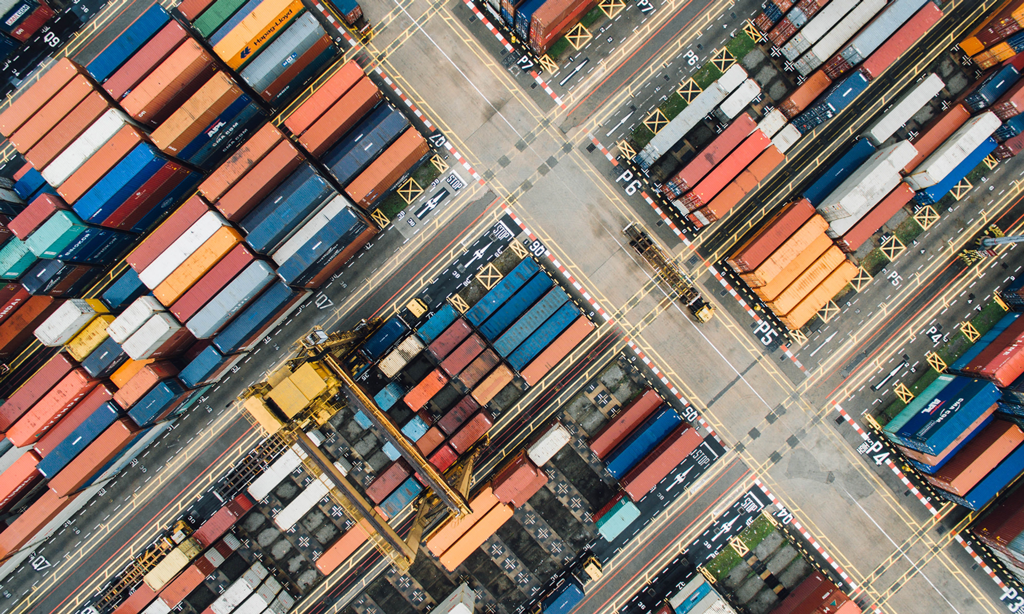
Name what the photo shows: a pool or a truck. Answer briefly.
truck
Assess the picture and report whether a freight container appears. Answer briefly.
Yes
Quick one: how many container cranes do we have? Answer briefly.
1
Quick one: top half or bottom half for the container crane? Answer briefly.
bottom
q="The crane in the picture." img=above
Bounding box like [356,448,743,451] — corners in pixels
[233,307,485,580]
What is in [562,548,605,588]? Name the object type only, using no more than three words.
truck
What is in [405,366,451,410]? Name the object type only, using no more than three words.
shipping container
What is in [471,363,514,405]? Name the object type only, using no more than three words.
shipping container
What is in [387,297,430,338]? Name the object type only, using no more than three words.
truck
